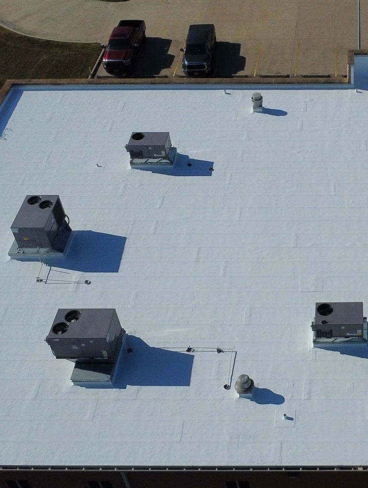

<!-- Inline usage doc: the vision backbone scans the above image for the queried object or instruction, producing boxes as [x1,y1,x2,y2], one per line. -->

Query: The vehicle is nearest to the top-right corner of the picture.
[177,24,219,76]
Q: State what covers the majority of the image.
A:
buildings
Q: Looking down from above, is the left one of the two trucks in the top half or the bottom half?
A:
top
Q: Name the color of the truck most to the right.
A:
black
